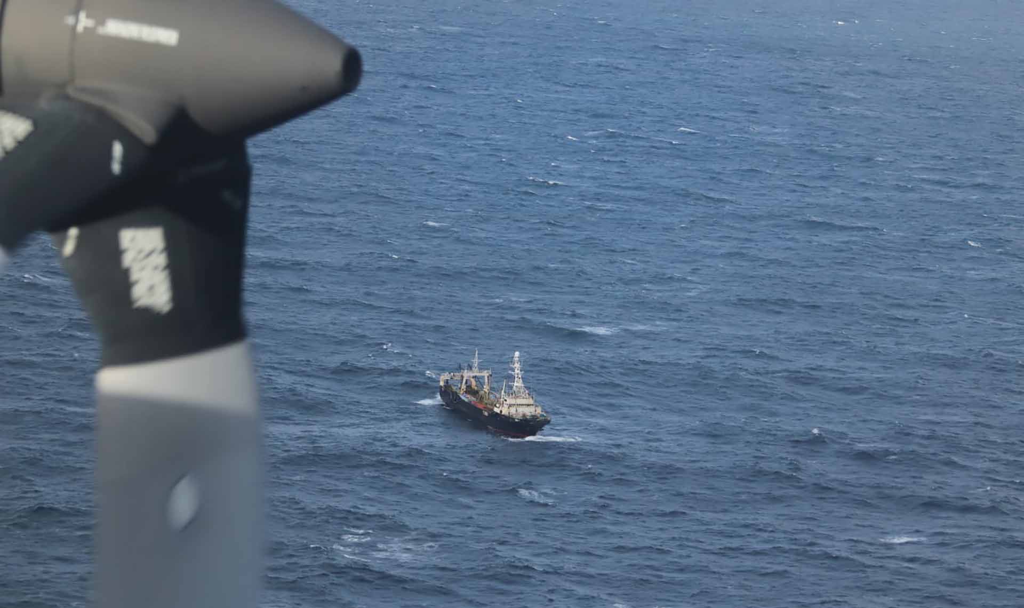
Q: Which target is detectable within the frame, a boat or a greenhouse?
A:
boat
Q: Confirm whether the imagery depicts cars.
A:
No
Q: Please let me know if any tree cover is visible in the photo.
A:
No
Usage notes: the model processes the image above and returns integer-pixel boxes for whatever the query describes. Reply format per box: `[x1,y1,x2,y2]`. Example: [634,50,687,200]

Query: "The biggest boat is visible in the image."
[438,351,554,438]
